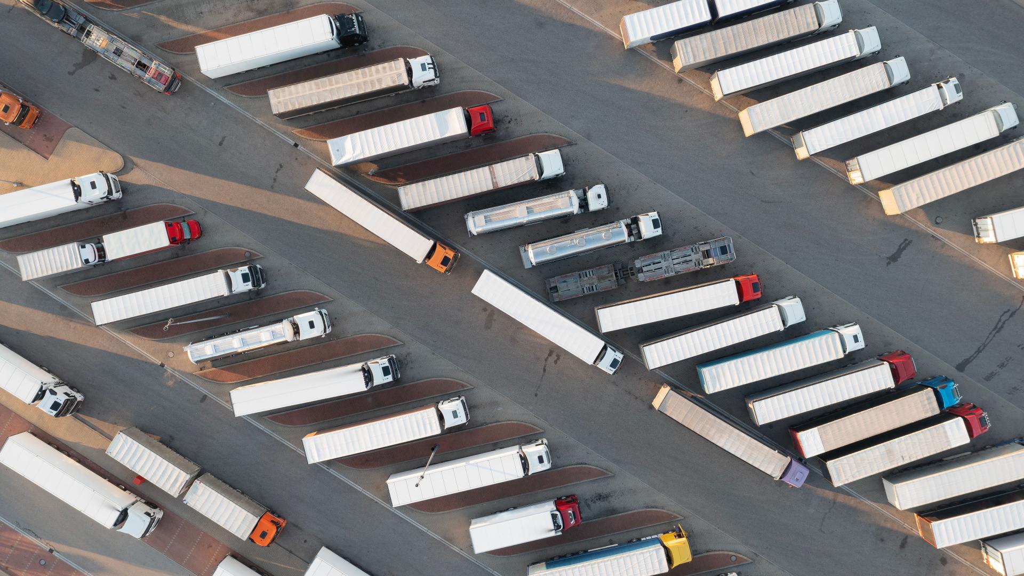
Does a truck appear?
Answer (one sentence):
Yes, the frame does contain a truck.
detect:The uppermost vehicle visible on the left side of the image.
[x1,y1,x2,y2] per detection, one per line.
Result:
[20,0,67,25]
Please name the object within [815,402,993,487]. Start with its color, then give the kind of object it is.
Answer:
white truck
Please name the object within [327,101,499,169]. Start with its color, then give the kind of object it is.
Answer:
white truck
